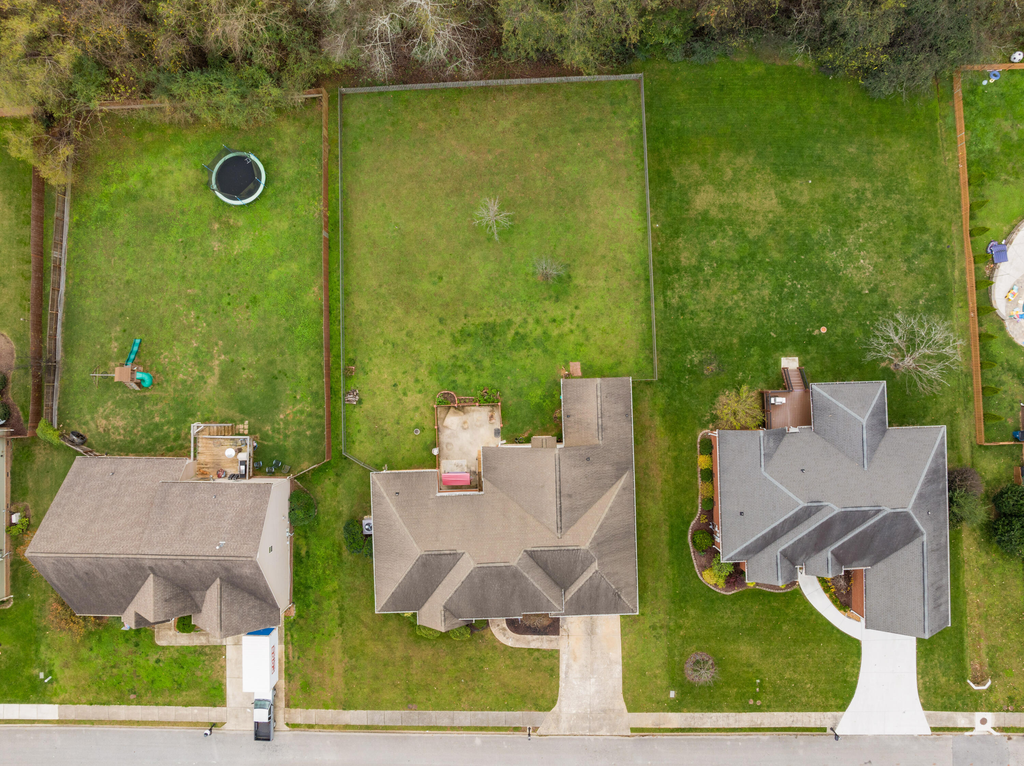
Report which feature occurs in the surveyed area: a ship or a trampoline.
trampoline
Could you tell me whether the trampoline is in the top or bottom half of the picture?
top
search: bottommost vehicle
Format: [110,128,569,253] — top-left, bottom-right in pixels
[249,685,279,740]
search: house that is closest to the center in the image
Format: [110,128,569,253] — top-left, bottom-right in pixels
[369,377,640,633]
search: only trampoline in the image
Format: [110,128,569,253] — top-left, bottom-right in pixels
[203,144,267,207]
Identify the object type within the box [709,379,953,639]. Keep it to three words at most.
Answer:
house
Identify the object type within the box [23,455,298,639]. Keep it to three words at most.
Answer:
house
